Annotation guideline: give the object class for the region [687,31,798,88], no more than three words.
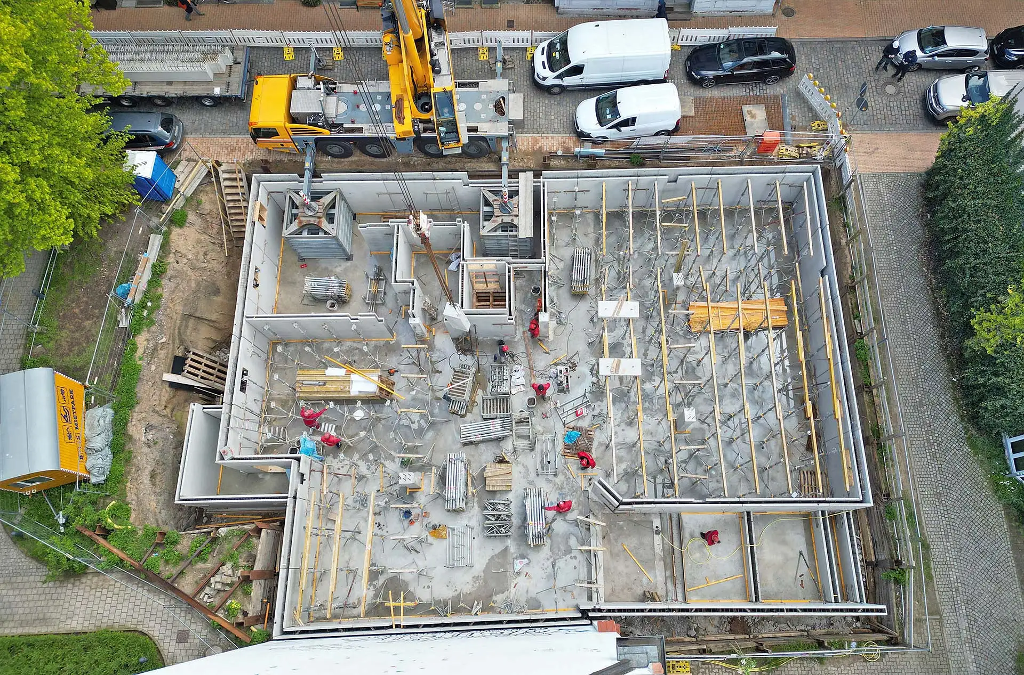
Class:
car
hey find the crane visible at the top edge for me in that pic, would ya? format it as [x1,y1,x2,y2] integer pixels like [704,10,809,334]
[245,0,523,217]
